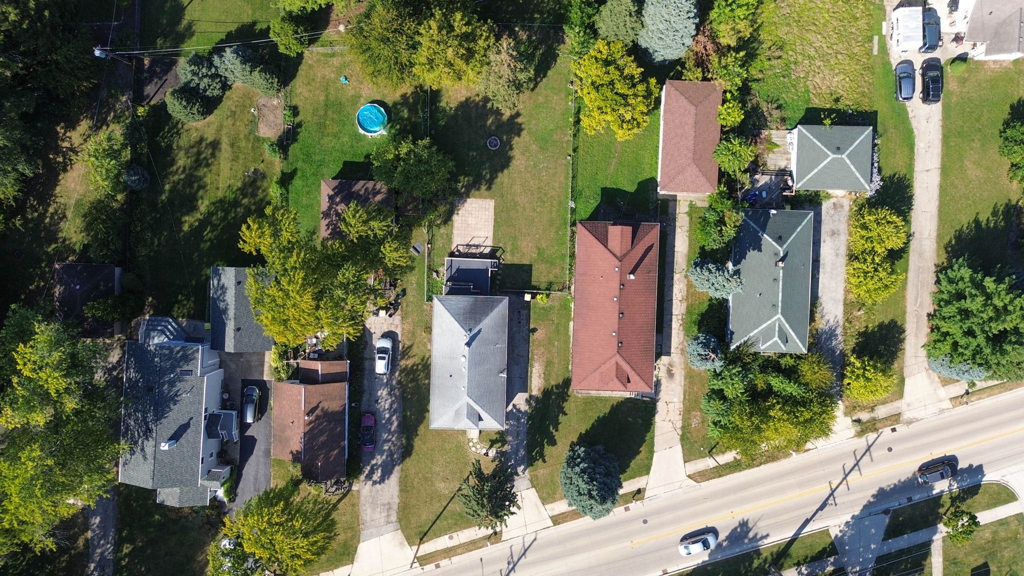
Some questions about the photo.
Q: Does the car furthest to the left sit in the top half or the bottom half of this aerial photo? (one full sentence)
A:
Seen from above, the car furthest to the left lies in the bottom half of the view.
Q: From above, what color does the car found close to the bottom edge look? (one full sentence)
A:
The color of the car found close to the bottom edge is white.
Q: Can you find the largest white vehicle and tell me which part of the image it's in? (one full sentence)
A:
The largest white vehicle sits in the top right section of the image.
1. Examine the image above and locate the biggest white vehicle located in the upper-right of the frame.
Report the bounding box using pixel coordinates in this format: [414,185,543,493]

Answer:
[892,5,924,61]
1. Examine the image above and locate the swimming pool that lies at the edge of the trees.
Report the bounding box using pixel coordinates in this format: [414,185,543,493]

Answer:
[355,102,389,135]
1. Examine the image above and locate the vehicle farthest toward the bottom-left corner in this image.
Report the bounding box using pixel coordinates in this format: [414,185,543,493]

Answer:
[241,385,261,425]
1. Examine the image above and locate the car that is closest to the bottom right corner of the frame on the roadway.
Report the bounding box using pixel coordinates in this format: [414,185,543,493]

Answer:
[677,532,718,557]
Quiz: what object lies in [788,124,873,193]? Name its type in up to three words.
building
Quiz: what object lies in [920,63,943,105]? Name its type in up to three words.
car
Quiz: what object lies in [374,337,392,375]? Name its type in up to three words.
car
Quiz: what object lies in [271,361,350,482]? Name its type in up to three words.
house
